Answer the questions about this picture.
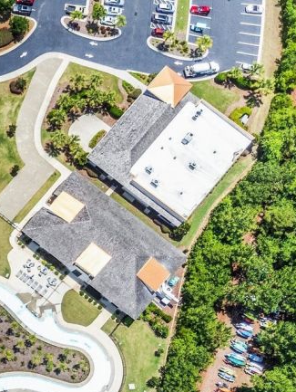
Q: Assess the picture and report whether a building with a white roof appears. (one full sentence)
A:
Yes, there's a building with a white roof here.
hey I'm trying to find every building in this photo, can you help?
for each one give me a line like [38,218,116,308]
[85,65,256,226]
[21,170,186,319]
